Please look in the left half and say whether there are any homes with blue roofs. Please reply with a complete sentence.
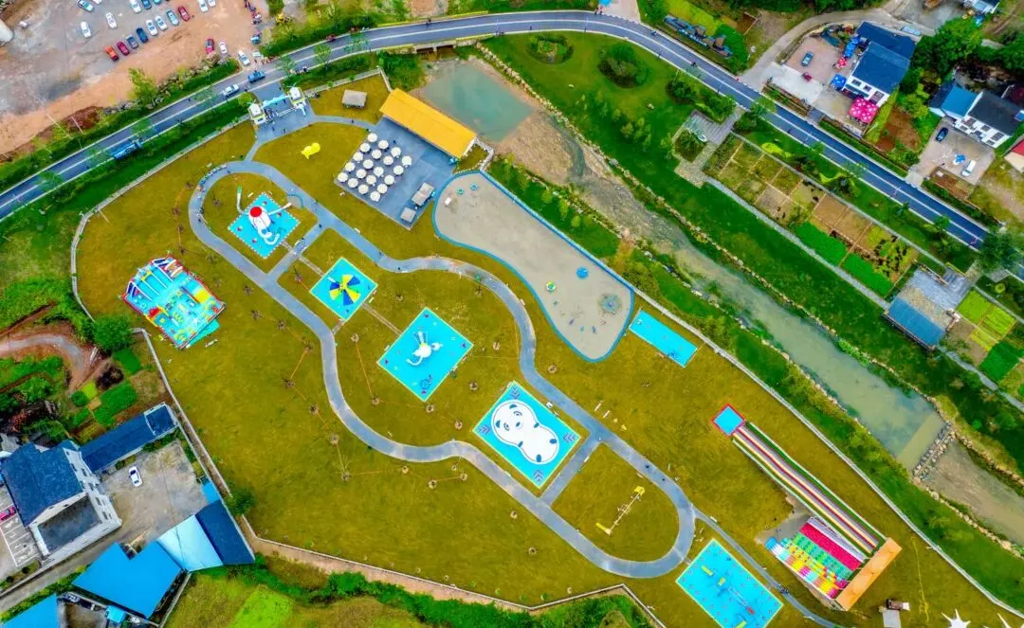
Yes, you'll find a home with a blue roof in the left half.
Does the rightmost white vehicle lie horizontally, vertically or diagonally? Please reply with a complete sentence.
From this overhead view, the rightmost white vehicle appears to run diagonally.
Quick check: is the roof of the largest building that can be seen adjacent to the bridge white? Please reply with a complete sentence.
No, from above the roof of the largest building that can be seen adjacent to the bridge looks yellow.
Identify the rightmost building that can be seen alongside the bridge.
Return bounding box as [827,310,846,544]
[380,89,475,159]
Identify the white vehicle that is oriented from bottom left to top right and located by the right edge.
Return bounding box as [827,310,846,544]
[959,155,980,179]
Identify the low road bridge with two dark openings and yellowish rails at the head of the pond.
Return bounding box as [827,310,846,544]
[371,0,494,50]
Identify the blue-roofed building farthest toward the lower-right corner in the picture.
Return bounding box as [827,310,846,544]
[884,297,946,347]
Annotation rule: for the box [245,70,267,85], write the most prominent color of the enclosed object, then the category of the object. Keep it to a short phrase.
blue vehicle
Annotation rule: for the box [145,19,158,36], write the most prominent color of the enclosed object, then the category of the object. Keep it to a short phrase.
white vehicle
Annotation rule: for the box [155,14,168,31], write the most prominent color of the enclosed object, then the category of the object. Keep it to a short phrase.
white vehicle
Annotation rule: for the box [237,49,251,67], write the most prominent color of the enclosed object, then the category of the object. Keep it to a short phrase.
white car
